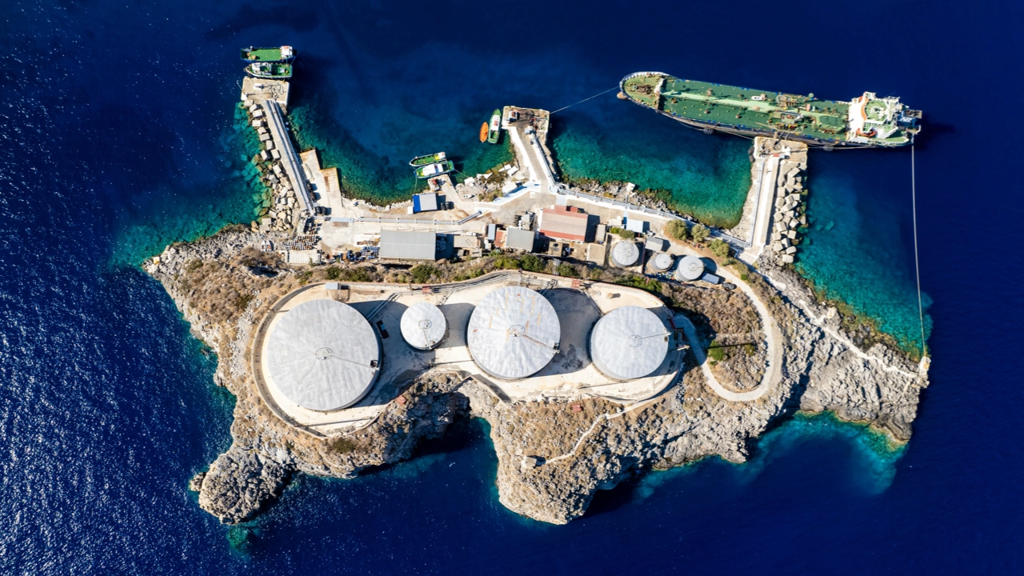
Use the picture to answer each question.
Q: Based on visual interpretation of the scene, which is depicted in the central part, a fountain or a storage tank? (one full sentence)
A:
Looking in the central part, you will find a storage tank.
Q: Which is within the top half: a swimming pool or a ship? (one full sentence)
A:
You can see a ship within the top half.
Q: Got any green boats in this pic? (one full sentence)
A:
Yes, a green boat can be made out from above.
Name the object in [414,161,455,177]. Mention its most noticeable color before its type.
white boat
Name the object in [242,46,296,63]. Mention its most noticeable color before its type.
green boat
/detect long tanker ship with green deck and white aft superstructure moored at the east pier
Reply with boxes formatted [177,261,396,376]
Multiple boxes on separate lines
[619,74,922,153]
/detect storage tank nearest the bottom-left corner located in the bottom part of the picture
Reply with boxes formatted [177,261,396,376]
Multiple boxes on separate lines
[267,299,381,411]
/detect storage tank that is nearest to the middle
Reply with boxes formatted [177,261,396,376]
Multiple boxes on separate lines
[466,286,560,380]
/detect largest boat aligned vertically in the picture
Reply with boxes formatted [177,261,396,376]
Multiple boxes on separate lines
[487,109,501,145]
